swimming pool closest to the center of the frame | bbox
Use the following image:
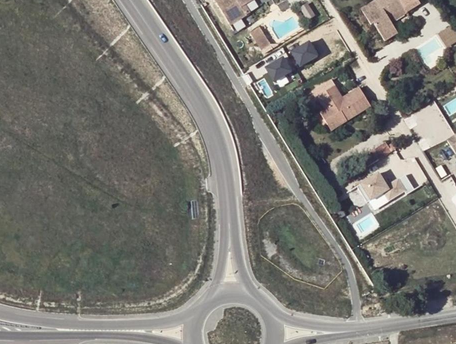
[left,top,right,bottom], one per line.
[256,78,274,100]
